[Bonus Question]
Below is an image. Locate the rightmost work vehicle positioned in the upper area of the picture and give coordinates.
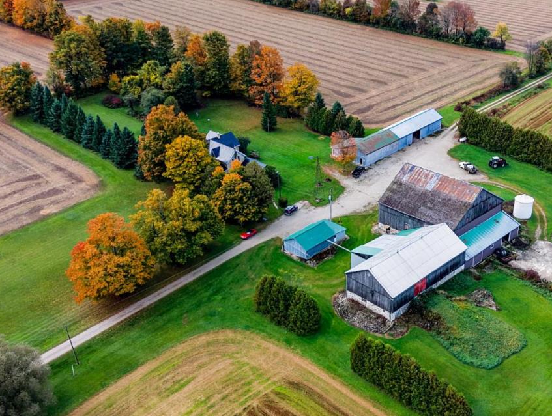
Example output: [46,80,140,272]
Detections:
[488,154,511,168]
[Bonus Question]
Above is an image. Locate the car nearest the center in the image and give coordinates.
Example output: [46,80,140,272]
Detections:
[281,199,301,214]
